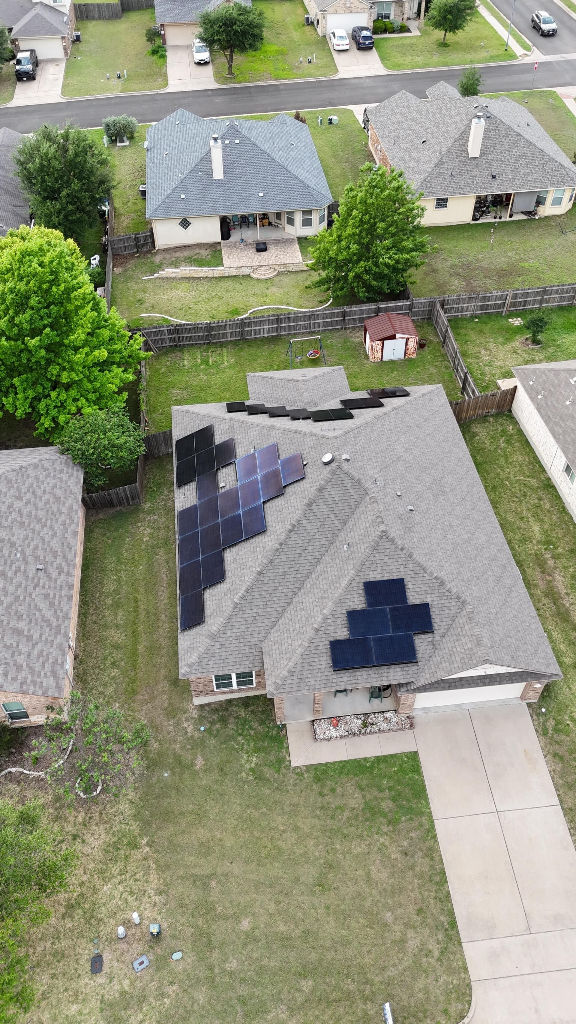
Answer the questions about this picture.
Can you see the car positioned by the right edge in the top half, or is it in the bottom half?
top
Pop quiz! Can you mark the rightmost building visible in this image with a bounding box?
[511,358,576,502]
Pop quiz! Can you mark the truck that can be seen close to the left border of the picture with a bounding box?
[16,52,40,78]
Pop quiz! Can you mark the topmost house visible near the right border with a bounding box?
[367,87,576,228]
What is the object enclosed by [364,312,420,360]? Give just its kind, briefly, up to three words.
shed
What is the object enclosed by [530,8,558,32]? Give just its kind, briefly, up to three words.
car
